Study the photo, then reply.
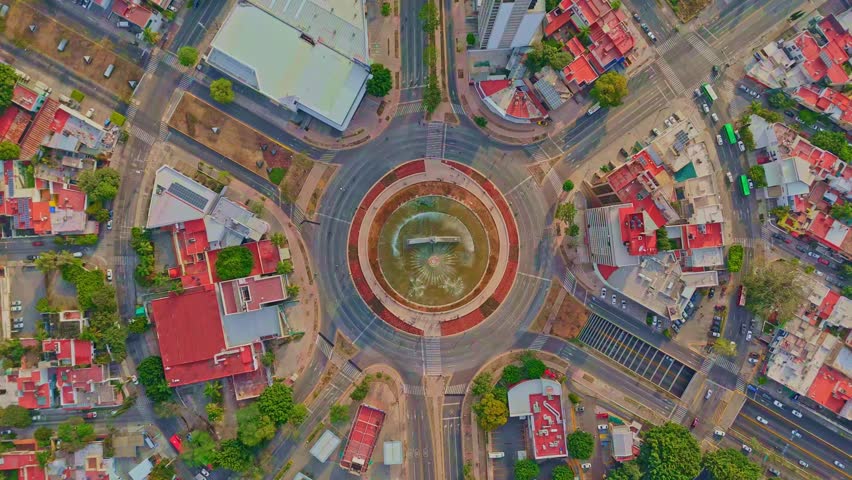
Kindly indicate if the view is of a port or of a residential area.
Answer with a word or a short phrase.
residential area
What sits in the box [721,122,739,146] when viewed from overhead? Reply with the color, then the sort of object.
green vehicle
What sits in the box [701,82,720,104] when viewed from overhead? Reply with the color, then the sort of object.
white vehicle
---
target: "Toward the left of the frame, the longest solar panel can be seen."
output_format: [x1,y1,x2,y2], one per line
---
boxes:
[170,184,207,210]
